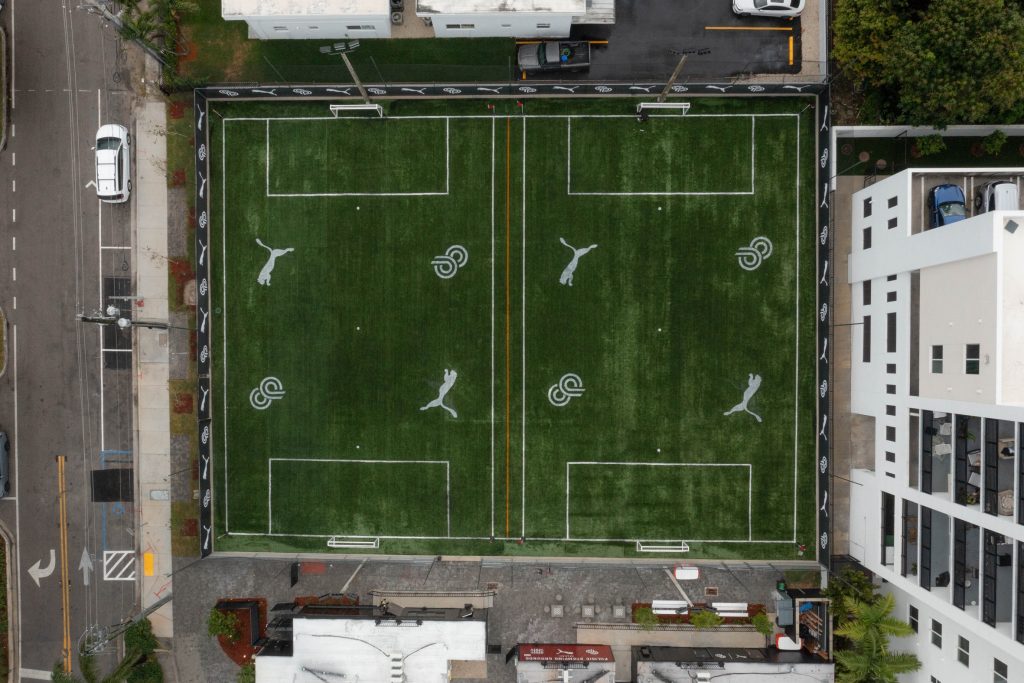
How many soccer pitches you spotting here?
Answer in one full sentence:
There are 2 soccer pitches in the image.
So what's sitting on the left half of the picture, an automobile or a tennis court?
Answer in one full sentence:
The one visible on the left half of the picture is an automobile.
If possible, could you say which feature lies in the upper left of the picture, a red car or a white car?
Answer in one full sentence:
The one visible in the upper left of the picture is a white car.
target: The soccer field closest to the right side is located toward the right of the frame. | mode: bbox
[504,96,817,556]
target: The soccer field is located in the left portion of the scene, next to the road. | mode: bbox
[209,98,510,554]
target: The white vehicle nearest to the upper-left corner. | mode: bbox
[92,124,133,202]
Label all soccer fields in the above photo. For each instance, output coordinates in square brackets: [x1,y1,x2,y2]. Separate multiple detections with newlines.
[209,98,510,554]
[504,96,817,556]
